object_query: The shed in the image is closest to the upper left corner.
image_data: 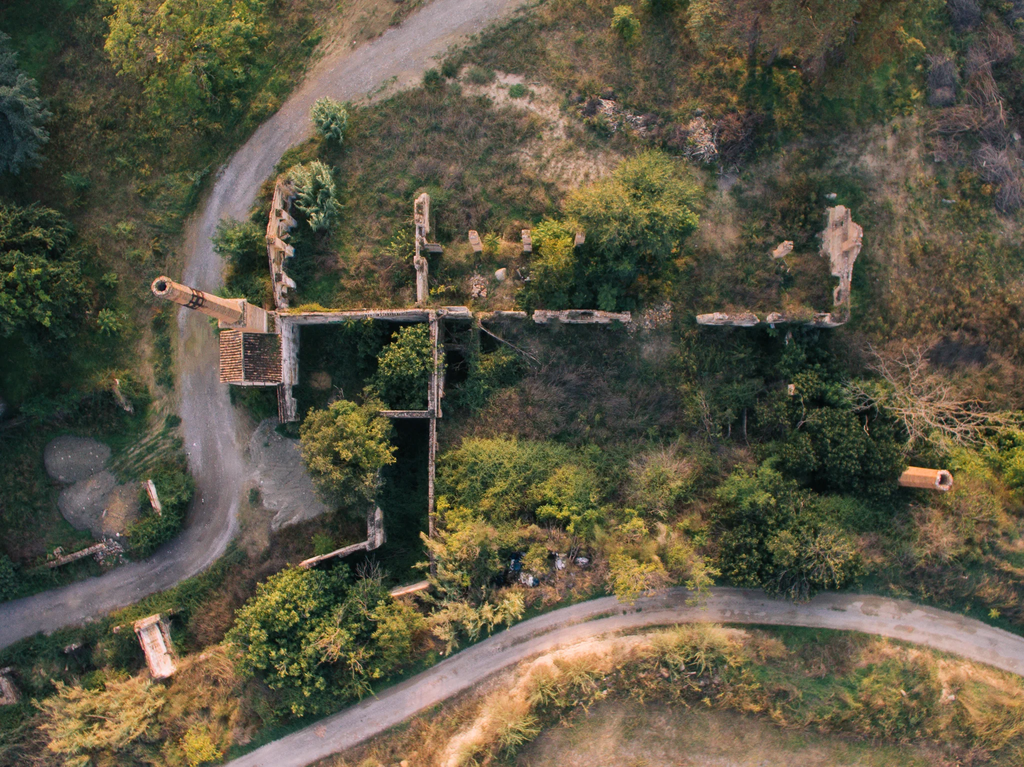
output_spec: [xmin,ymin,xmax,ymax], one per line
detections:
[218,331,285,392]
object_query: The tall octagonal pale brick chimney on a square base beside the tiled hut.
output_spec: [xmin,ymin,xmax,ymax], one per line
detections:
[155,279,277,333]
